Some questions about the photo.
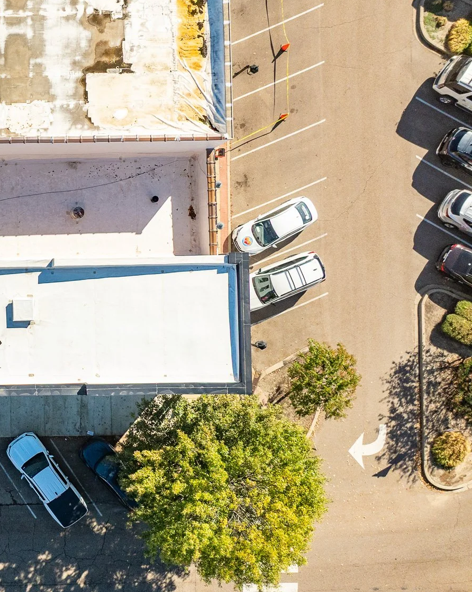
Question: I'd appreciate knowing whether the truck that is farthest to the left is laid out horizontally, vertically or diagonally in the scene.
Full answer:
I'd say the truck that is farthest to the left is aligned diagonally in the picture.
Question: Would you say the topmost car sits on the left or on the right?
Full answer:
The topmost car appears in the right half of the scene.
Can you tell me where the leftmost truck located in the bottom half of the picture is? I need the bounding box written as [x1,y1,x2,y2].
[7,430,90,531]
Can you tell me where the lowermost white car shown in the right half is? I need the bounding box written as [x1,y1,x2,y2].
[250,250,328,310]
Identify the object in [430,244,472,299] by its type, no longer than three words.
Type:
car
